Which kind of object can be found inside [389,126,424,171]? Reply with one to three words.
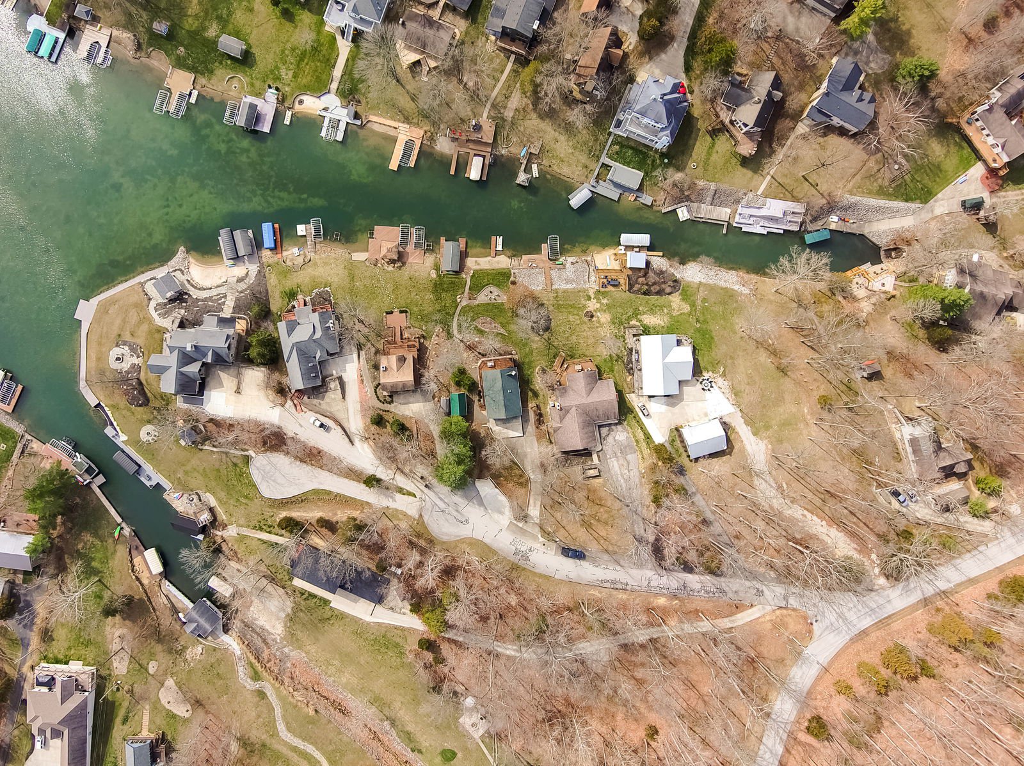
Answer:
pier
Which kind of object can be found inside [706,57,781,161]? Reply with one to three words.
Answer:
house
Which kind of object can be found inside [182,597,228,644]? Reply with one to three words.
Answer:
building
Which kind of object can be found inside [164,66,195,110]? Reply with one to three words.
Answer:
pier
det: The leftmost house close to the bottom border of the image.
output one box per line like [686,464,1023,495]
[26,658,103,766]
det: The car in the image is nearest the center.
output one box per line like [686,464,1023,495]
[636,401,652,418]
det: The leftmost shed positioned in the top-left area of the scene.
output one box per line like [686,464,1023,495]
[73,3,97,24]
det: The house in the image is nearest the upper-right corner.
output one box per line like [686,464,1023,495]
[942,75,1024,177]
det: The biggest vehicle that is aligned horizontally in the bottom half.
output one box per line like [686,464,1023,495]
[561,548,587,561]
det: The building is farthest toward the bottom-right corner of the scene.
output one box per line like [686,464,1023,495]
[927,486,970,511]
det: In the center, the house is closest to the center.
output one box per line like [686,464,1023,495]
[478,355,524,436]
